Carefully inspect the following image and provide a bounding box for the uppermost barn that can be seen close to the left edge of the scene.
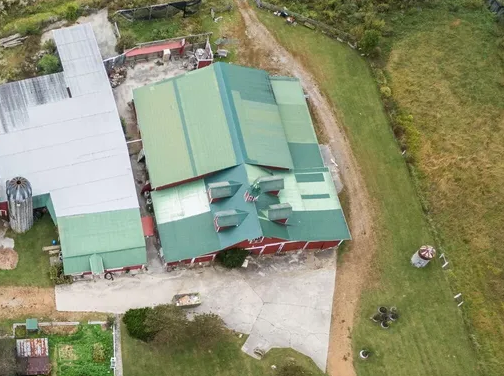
[0,23,147,284]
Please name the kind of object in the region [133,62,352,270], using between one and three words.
barn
